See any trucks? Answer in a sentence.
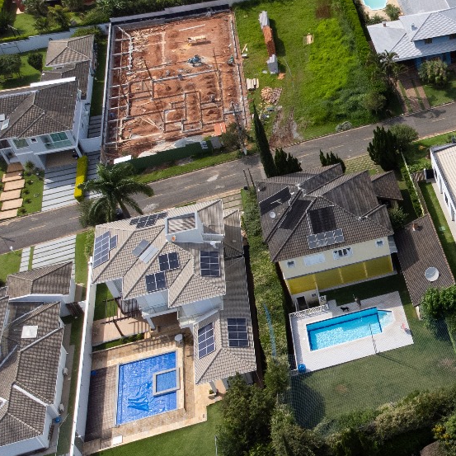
No, I can see no truck in this picture.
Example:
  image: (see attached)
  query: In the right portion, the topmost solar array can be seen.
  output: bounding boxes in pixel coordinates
[308,227,344,249]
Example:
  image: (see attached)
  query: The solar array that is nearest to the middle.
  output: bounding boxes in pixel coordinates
[202,250,219,276]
